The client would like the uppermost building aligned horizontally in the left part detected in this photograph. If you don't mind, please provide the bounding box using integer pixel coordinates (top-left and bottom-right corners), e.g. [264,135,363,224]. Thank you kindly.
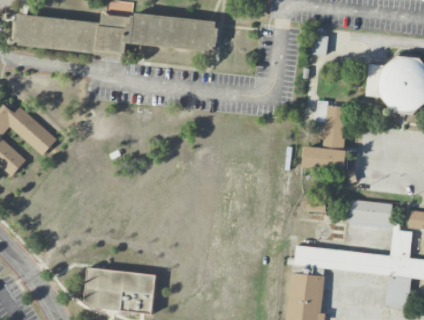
[2,2,218,58]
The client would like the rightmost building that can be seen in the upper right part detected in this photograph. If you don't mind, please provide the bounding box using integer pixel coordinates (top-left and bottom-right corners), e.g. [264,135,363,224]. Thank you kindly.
[364,56,424,116]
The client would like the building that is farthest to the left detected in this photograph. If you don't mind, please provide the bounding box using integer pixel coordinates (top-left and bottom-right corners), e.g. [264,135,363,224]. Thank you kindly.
[0,106,57,177]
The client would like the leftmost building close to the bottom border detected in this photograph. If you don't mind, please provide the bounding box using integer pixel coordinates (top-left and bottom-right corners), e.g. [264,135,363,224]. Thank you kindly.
[83,268,156,314]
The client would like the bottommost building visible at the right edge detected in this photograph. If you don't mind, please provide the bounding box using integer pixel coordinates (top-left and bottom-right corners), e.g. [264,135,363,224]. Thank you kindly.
[287,226,424,309]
